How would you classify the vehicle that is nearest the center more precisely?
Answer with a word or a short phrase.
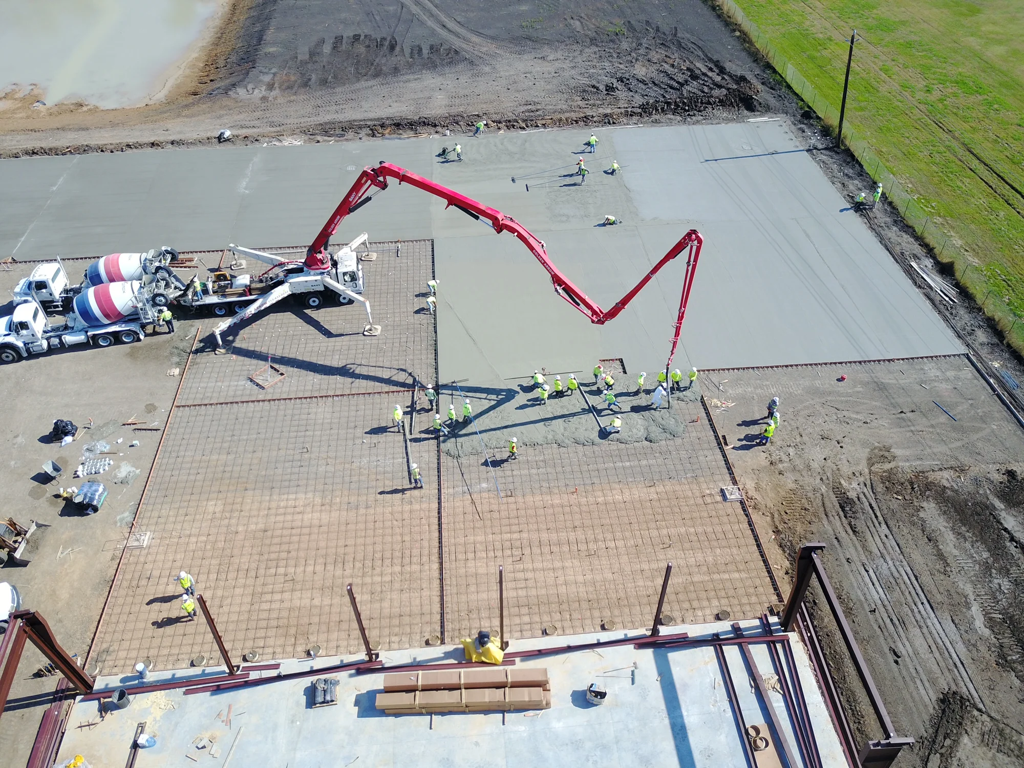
truck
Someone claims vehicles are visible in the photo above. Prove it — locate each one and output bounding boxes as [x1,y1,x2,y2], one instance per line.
[176,158,705,407]
[0,268,194,362]
[0,506,54,568]
[0,243,199,318]
[0,579,29,624]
